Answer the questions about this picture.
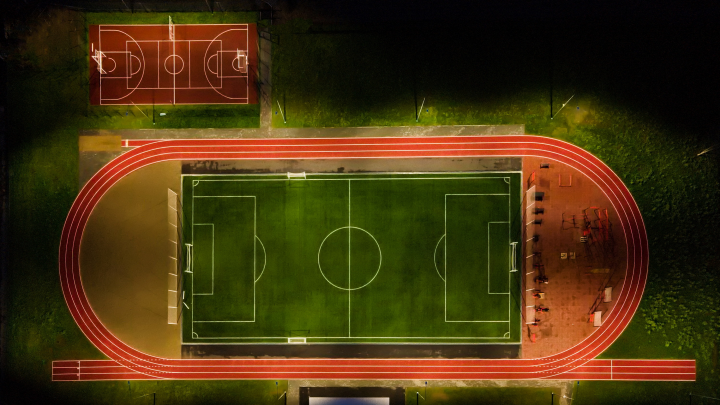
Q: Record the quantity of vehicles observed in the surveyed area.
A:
zero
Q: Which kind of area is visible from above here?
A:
sports ground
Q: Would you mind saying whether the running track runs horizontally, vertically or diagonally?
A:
horizontally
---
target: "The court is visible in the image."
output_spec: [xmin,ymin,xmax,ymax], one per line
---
[89,23,258,105]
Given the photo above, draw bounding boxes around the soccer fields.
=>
[181,171,522,345]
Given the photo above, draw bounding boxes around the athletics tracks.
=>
[52,133,696,382]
